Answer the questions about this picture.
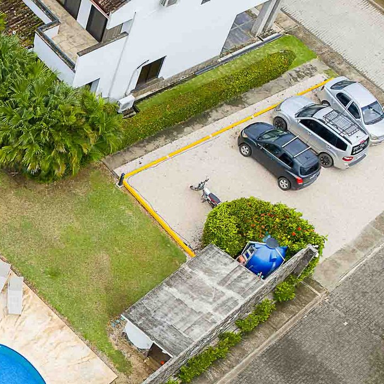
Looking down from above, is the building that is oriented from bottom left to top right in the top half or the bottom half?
bottom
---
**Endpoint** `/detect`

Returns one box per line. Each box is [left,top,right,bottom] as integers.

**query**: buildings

[122,241,263,379]
[0,0,292,112]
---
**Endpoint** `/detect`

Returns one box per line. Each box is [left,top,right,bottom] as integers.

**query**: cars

[270,93,373,171]
[236,119,330,194]
[324,74,384,147]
